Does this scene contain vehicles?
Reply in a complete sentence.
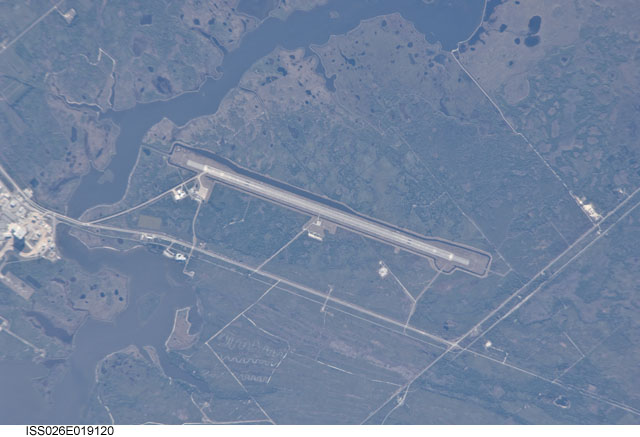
No, the scene contains no vehicle.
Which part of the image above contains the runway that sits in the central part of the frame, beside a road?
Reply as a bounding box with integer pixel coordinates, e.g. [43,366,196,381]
[204,165,452,259]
